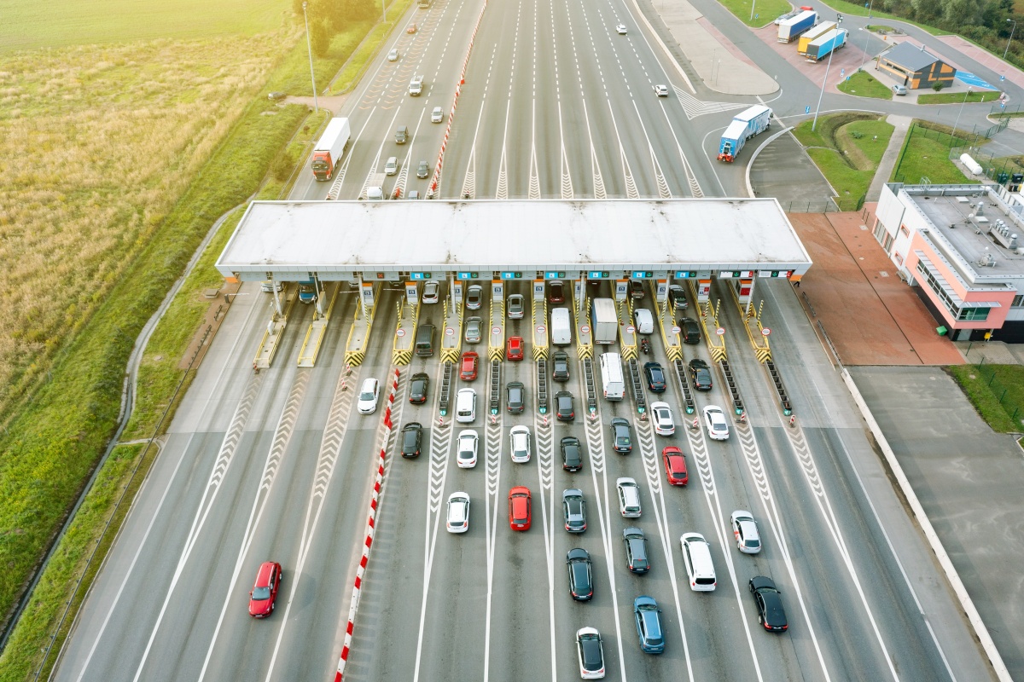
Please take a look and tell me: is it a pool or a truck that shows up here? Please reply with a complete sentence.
The one in the frame is a truck.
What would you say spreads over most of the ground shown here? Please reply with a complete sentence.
For the most part, this view shows paved ground.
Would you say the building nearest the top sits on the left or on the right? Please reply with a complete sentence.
It is on the right.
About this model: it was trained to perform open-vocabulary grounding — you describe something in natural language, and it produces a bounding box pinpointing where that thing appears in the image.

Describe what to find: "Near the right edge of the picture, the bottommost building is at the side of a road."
[871,174,1024,339]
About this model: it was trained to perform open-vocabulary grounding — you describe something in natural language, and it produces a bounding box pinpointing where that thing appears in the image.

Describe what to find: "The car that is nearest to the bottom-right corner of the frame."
[754,579,785,633]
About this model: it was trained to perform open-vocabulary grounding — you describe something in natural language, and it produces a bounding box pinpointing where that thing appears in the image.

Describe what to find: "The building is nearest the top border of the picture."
[873,41,959,88]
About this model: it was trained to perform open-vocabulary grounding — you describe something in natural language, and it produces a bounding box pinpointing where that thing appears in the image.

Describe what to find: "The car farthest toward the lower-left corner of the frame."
[249,563,283,619]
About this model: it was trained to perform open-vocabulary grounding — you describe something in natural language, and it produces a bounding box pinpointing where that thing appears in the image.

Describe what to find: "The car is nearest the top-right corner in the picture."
[893,82,909,94]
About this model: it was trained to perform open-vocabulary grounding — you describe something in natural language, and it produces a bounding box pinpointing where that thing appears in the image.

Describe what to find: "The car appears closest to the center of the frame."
[506,335,525,361]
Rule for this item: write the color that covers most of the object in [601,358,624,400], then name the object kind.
white vehicle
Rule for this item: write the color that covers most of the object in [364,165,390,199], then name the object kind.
white truck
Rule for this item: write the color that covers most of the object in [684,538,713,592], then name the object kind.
white car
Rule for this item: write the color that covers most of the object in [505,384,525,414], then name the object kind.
gray car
